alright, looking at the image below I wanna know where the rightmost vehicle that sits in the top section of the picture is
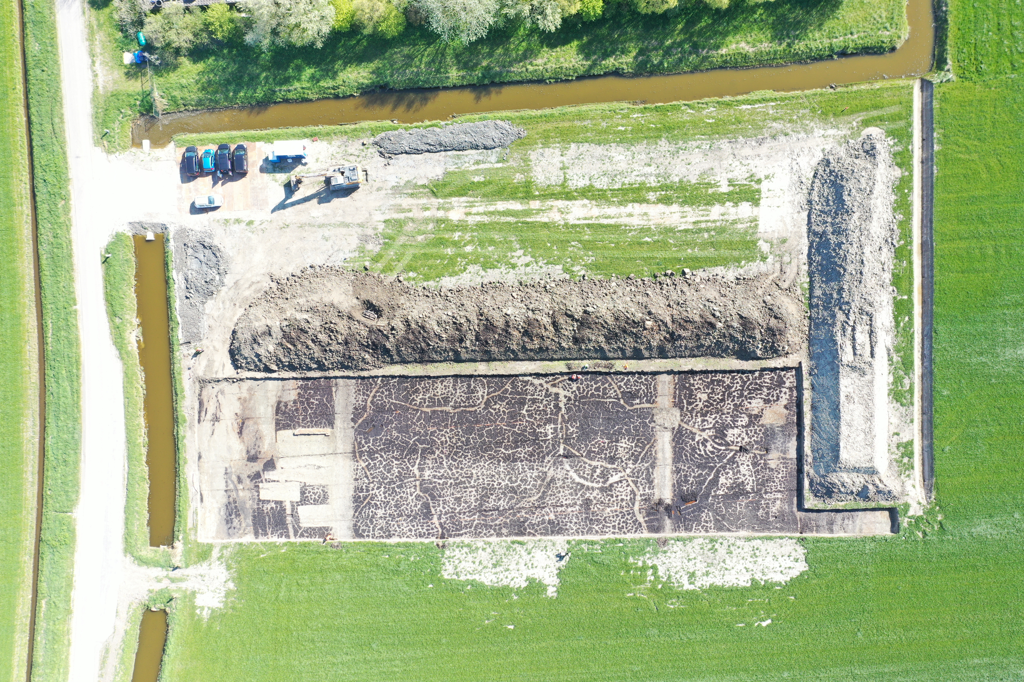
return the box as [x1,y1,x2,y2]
[291,163,366,190]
